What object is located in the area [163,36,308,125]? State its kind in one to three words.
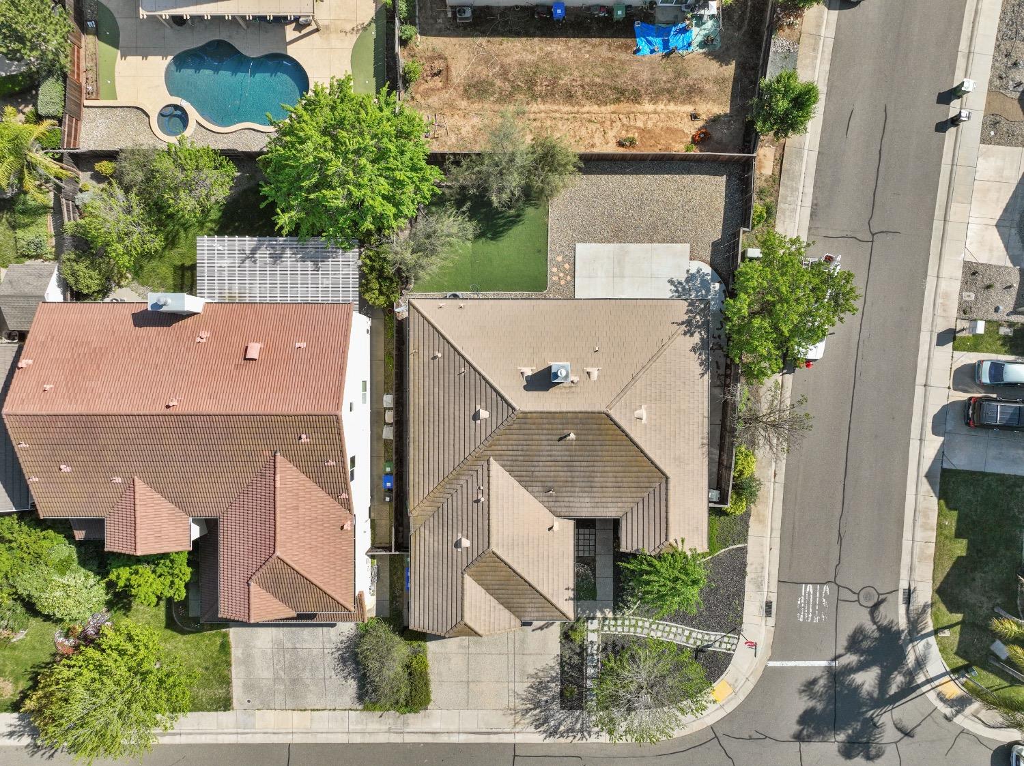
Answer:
swimming pool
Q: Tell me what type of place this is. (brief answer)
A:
residential area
